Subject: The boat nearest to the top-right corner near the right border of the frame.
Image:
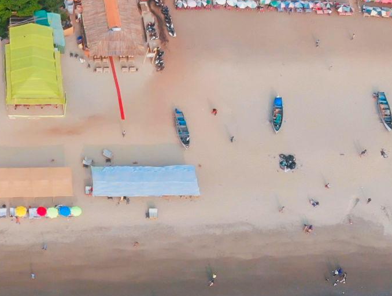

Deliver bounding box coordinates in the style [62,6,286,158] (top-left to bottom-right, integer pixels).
[377,91,392,133]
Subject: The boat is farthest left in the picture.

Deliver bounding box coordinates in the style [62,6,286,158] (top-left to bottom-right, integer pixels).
[175,108,188,150]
